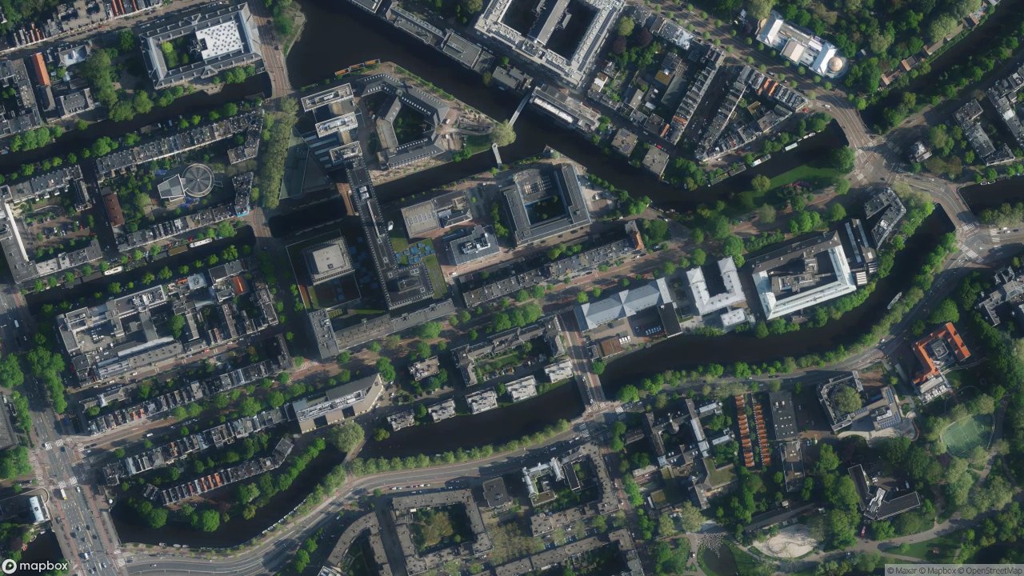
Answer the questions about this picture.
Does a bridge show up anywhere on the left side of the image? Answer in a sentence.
Yes, a bridge can be seen on the left side of the image.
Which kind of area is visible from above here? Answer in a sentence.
The area seen from above is a residential area.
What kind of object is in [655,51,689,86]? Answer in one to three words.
house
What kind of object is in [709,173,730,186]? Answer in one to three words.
boat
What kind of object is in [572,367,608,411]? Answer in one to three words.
bridge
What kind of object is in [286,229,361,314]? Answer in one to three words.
building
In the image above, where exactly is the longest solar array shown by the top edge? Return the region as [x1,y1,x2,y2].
[578,9,616,71]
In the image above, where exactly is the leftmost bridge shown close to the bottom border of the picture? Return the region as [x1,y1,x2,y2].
[49,503,126,576]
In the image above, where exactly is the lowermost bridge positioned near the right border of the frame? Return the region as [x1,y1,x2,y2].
[932,184,980,232]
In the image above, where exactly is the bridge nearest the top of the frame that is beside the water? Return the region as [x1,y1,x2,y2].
[269,56,295,98]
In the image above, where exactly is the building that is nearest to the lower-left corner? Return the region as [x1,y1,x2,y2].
[0,495,45,525]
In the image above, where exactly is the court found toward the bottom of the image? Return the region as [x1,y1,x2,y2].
[943,413,995,460]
